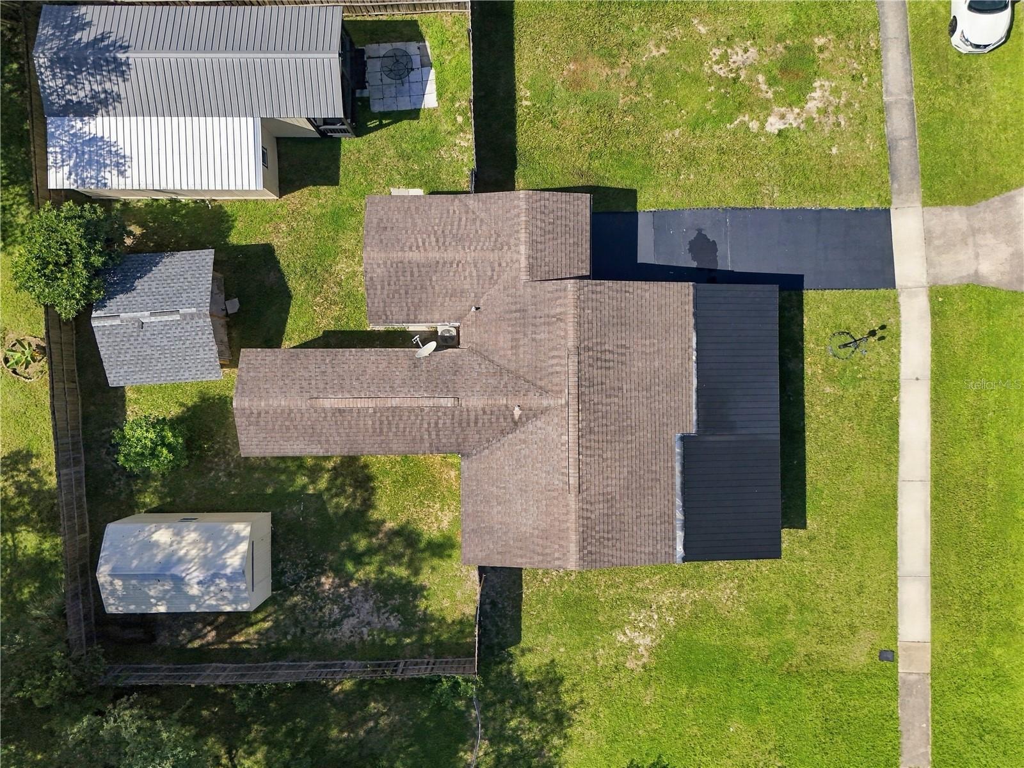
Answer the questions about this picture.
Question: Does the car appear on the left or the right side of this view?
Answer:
right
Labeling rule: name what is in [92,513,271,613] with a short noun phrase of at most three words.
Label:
shed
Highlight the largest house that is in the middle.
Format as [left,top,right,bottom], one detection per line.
[233,191,781,573]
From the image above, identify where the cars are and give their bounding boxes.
[942,0,1011,55]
